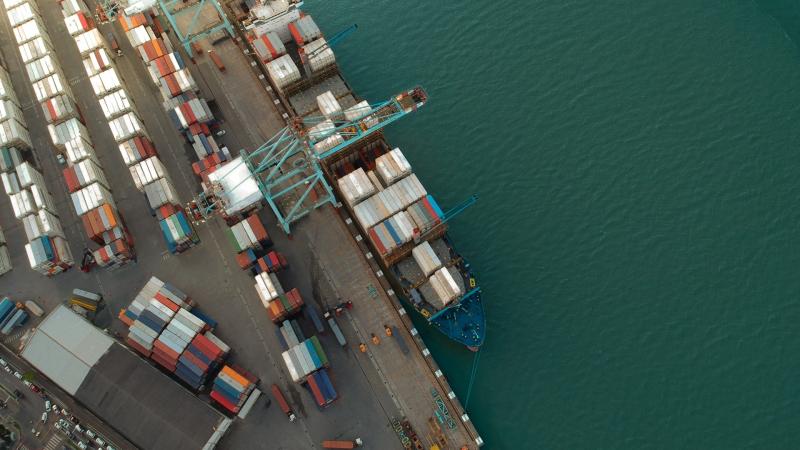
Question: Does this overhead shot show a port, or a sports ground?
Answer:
port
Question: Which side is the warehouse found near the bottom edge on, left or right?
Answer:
left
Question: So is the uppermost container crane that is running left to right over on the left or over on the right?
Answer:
left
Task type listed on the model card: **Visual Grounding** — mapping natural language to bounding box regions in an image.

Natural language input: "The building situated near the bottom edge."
[18,303,240,450]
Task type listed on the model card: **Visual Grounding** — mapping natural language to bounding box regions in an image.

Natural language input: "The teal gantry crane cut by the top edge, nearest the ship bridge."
[87,0,238,59]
